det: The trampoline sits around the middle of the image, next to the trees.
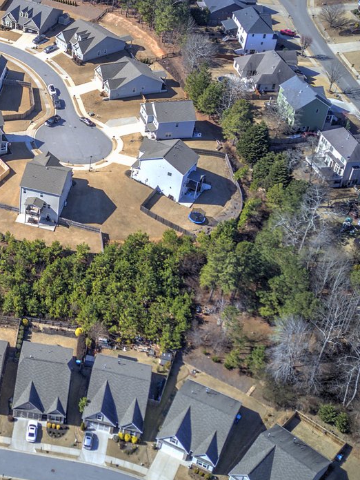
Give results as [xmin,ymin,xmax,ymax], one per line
[189,207,209,225]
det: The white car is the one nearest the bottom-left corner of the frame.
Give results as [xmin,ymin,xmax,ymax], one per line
[24,419,40,444]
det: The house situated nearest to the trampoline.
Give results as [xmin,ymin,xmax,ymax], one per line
[126,135,212,202]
